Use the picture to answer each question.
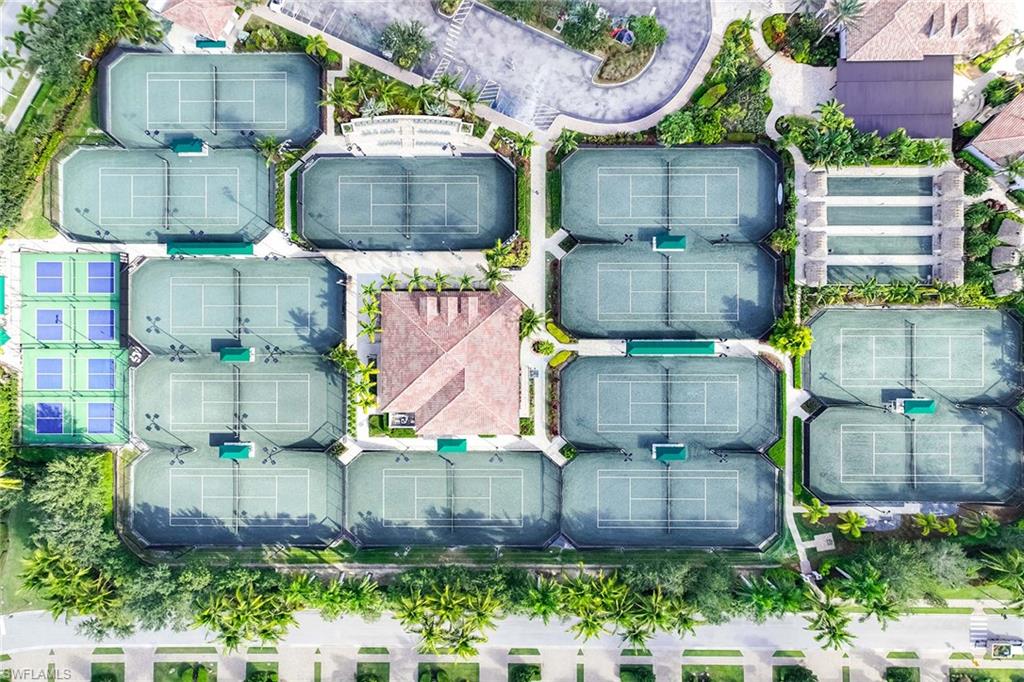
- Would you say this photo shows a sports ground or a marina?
sports ground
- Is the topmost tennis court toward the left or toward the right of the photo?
left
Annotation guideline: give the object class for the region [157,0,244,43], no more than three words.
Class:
building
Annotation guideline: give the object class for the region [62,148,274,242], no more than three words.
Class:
tennis court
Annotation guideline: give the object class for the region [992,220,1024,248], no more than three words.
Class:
shed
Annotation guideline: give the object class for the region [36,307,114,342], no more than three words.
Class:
sports court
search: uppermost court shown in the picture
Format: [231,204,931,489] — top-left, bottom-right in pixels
[109,54,319,148]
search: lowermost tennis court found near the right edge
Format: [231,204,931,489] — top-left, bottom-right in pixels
[810,406,1017,502]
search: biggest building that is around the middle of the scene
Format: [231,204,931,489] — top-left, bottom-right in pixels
[380,284,526,437]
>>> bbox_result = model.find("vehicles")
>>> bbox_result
[269,0,285,11]
[985,638,1024,657]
